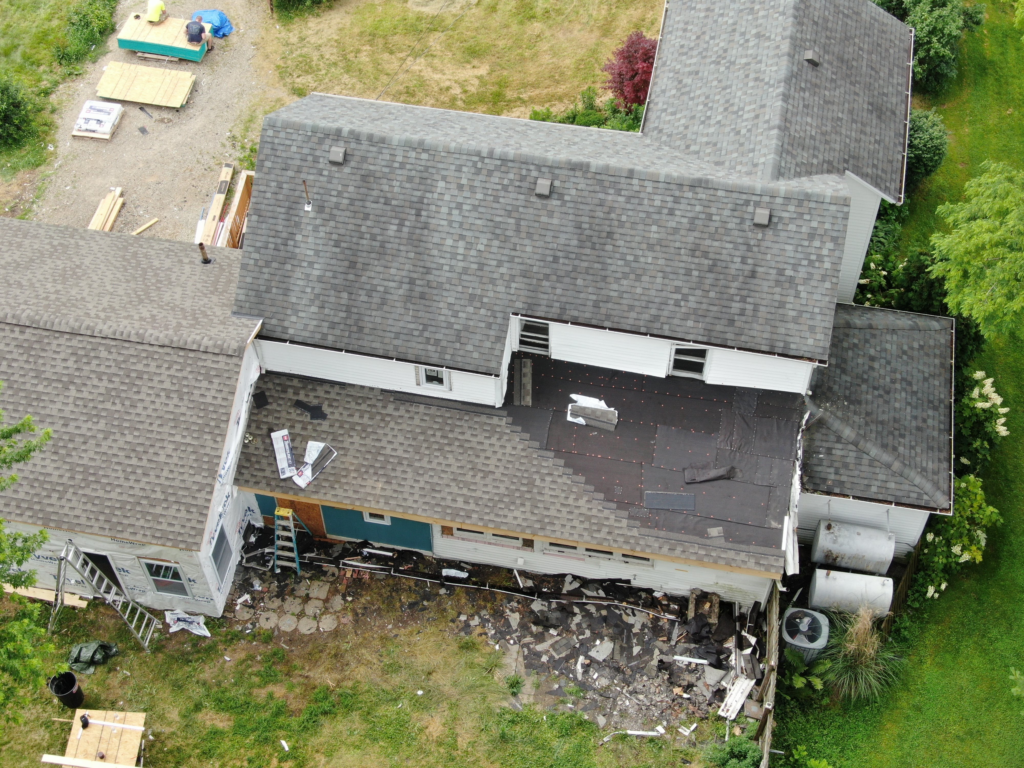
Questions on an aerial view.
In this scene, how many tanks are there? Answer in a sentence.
The picture shows 2 tanks.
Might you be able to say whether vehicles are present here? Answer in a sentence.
No, no vehicle can be seen from above.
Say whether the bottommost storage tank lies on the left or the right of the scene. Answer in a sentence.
You can find the bottommost storage tank on the right side of the picture.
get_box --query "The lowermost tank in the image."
[806,565,894,624]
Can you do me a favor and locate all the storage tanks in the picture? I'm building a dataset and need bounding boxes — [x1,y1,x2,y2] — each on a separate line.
[806,565,894,624]
[811,505,897,575]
